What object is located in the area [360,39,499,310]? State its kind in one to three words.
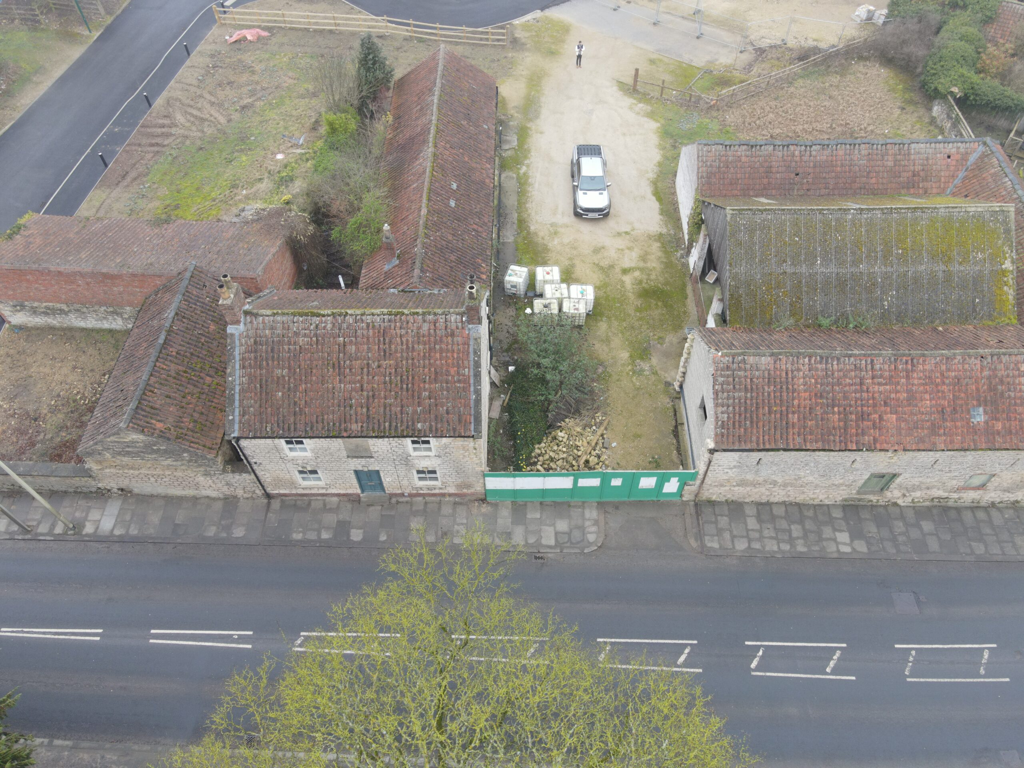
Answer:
shed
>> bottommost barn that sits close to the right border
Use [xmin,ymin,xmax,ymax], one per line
[674,325,1024,504]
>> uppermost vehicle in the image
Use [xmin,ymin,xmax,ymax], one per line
[571,144,613,219]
